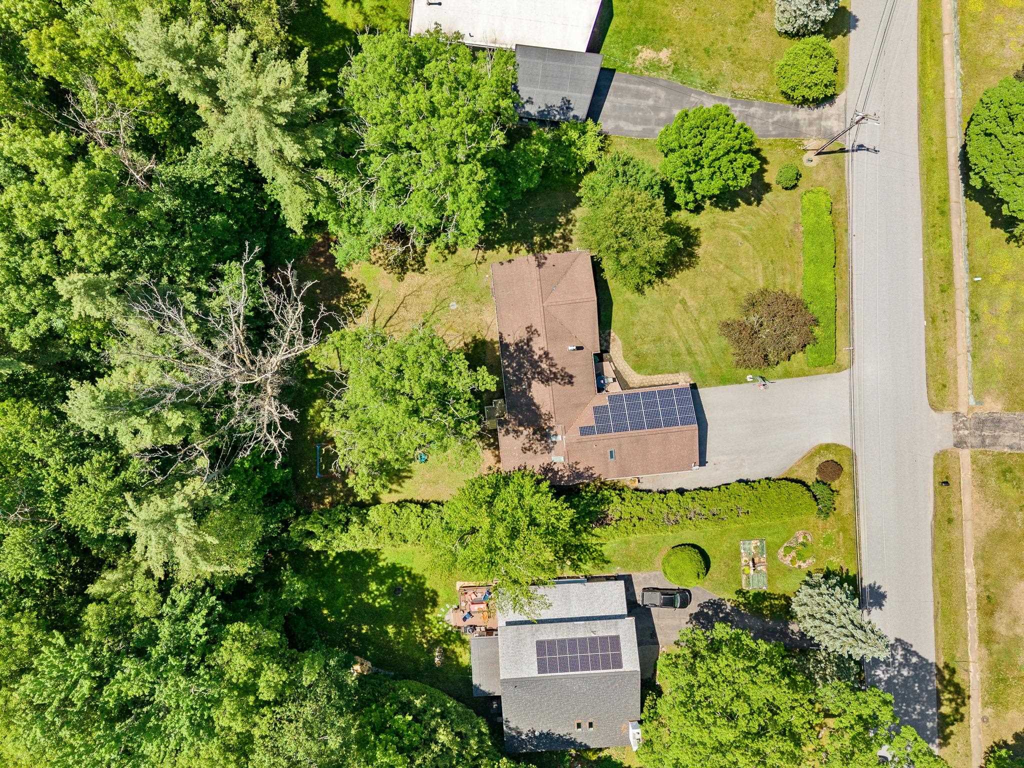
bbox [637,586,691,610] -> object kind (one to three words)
truck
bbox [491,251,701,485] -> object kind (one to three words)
house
